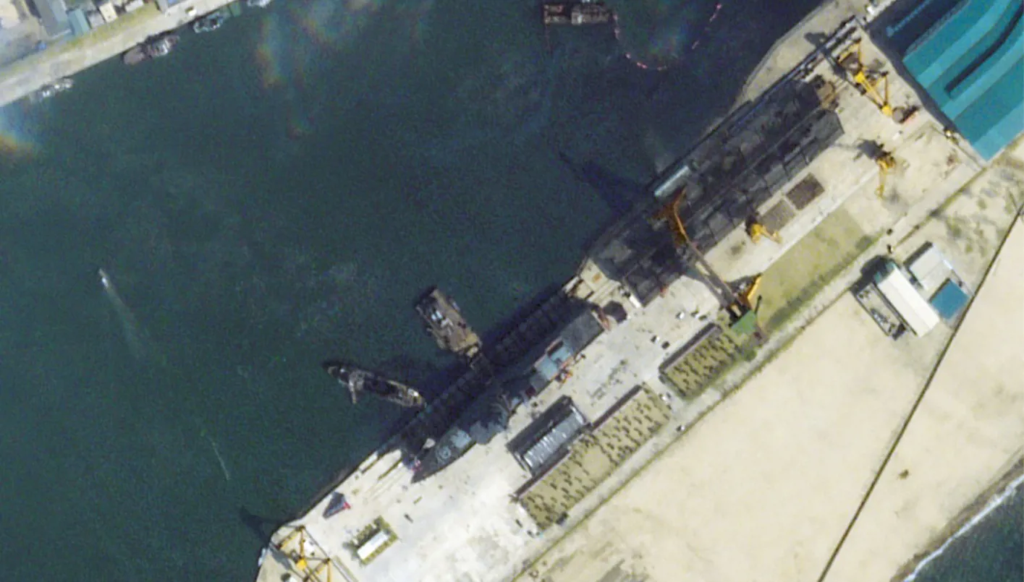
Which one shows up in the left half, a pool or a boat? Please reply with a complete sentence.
What appears in the left half is a boat.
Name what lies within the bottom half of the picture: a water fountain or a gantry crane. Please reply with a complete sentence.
You can see a gantry crane within the bottom half of the picture.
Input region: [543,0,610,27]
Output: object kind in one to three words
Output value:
ship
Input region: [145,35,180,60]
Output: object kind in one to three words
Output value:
boat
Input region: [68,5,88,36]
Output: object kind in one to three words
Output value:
house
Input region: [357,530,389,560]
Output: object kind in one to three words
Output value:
shed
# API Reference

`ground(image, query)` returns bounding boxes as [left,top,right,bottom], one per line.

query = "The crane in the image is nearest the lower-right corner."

[729,273,762,334]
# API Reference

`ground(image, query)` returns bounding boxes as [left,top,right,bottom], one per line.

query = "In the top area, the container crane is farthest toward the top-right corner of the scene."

[835,38,896,116]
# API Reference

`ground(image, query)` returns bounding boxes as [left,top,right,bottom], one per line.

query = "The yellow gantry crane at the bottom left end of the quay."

[277,525,332,582]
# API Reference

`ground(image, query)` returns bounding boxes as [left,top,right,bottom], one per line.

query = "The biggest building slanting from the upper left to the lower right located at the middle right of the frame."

[875,262,940,337]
